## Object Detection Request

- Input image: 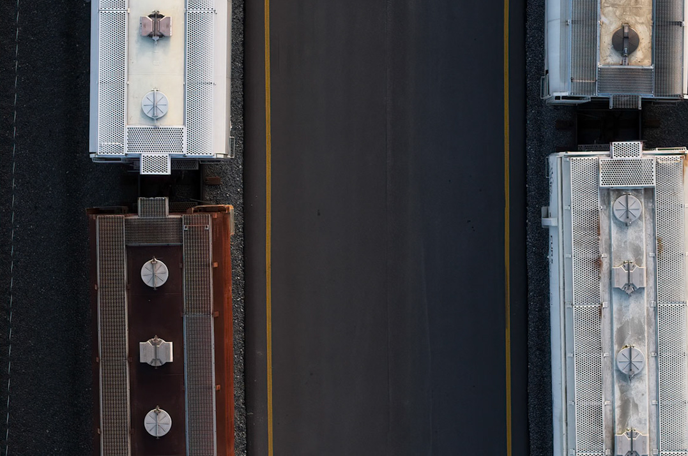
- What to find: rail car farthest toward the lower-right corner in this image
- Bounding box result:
[539,123,688,456]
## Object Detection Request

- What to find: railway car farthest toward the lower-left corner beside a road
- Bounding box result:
[84,177,240,456]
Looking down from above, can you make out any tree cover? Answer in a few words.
No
